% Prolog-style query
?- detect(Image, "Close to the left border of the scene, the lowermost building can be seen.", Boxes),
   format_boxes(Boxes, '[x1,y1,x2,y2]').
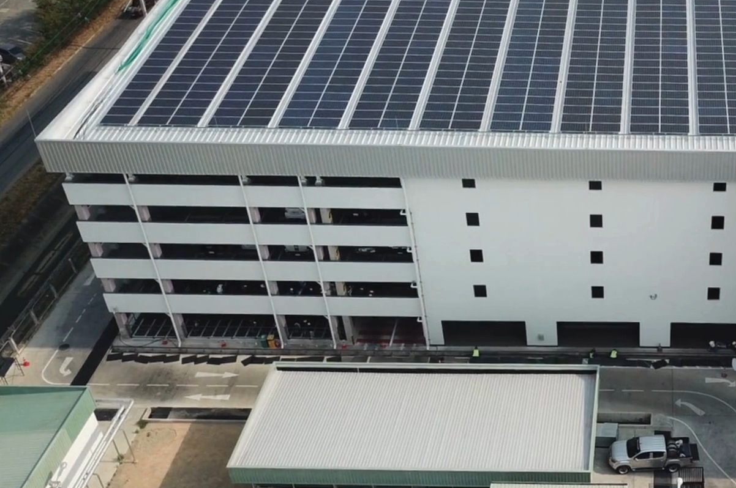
[0,385,104,488]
